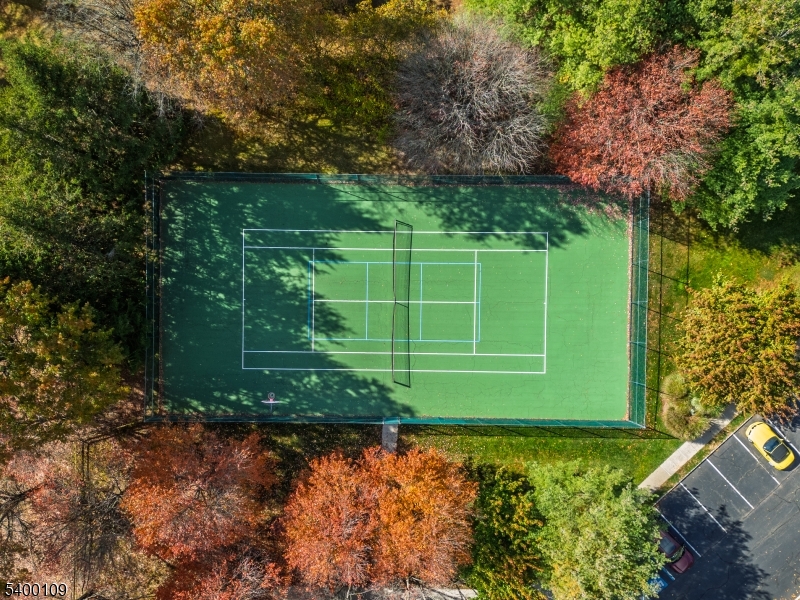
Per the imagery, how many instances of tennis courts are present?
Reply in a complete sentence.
There is 1 tennis court in the image.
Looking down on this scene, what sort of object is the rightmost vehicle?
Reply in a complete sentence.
I'd say the rightmost vehicle is a car.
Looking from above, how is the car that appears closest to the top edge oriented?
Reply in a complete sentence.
The car that appears closest to the top edge is oriented at an angle.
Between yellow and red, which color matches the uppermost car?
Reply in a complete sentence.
From above, the uppermost car appears yellow.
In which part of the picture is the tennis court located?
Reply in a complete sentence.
You can find the tennis court in the center area of the picture.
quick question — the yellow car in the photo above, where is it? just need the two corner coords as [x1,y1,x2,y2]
[743,420,791,470]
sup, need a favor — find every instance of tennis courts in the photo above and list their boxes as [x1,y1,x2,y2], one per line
[159,180,634,420]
